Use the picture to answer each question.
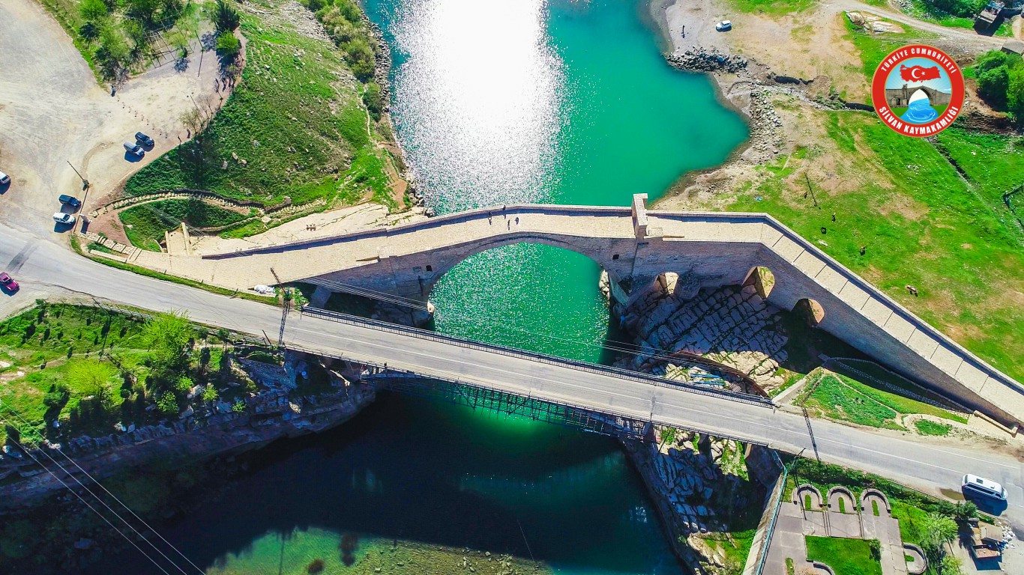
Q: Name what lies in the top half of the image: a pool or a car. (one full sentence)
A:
Visible in the top half of the image is a car.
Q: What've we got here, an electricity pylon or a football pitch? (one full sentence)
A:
Looking from above, you can make out an electricity pylon.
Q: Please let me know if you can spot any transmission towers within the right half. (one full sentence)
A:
Yes, within the right half there is a transmission tower.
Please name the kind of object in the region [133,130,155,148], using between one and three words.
car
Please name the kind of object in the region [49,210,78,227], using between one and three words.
car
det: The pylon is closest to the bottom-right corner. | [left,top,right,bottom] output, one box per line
[797,377,828,411]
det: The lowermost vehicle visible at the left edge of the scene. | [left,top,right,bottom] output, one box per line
[0,274,22,294]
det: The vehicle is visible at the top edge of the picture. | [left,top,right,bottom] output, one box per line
[715,20,733,32]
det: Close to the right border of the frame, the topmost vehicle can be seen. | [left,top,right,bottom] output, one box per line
[955,474,1009,504]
